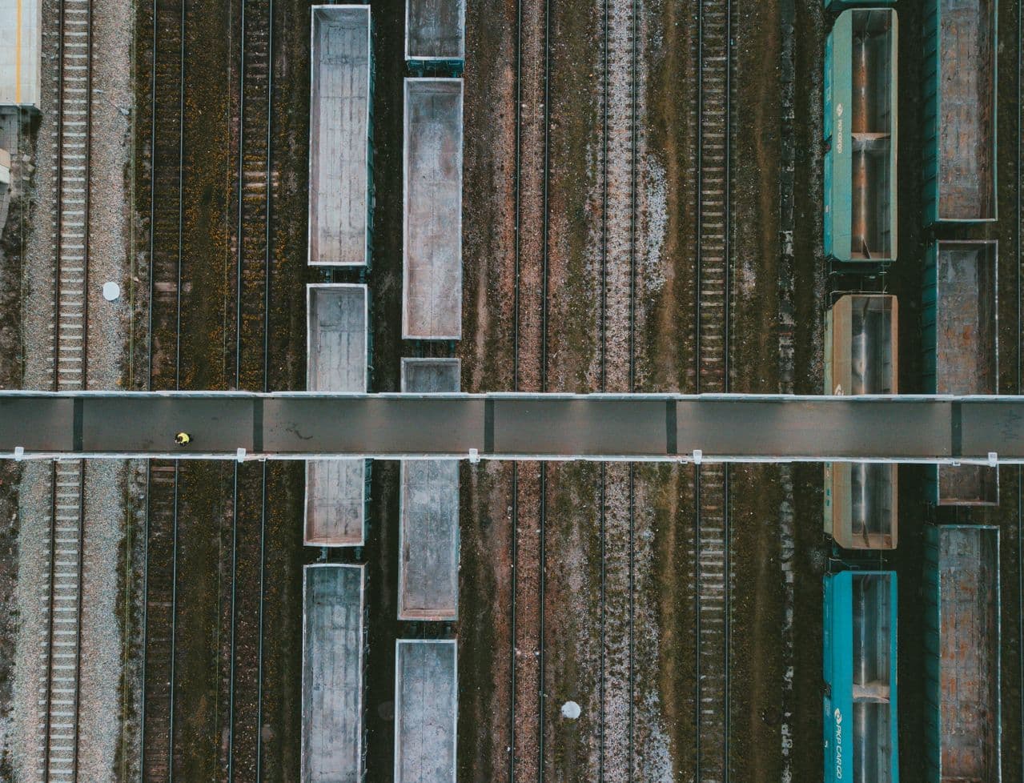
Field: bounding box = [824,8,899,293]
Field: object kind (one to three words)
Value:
rail car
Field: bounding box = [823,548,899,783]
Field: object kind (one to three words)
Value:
rail car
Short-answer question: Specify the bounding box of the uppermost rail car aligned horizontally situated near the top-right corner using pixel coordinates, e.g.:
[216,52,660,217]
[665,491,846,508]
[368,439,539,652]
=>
[826,0,880,21]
